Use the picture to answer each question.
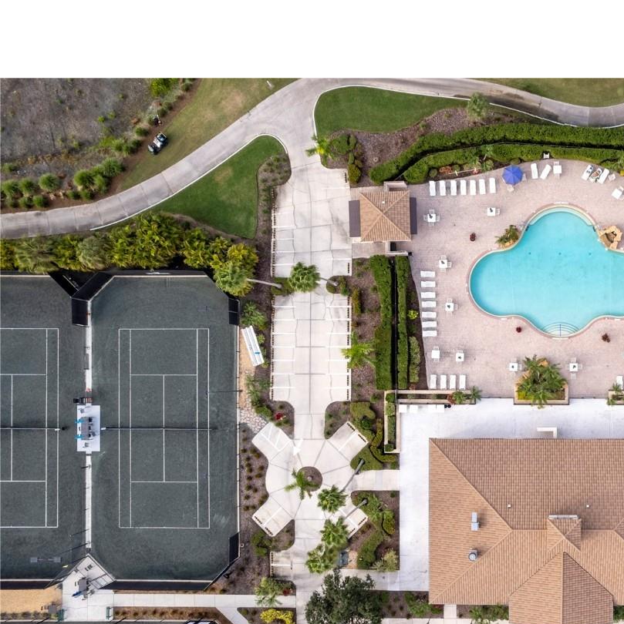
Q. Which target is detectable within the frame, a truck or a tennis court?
tennis court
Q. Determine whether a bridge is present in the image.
No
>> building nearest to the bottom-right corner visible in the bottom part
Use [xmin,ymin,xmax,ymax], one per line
[428,425,624,624]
